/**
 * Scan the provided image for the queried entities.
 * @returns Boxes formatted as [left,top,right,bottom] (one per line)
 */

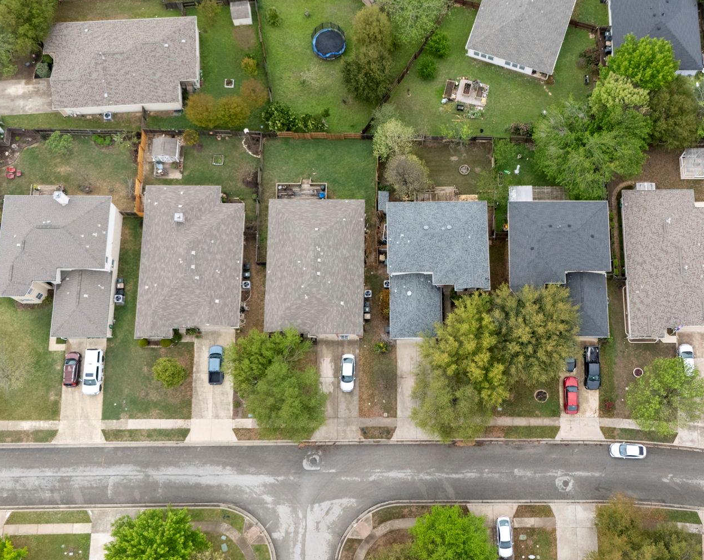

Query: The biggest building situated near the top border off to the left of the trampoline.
[41,16,203,116]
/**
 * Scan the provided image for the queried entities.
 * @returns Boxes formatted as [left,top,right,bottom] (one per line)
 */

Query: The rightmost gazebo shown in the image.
[678,148,704,180]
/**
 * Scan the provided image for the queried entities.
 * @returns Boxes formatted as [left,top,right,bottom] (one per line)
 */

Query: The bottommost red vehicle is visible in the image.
[563,376,581,416]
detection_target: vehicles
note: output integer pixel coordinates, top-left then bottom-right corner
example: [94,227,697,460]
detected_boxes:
[62,349,83,389]
[496,515,514,559]
[338,354,357,393]
[680,343,700,380]
[81,349,103,395]
[608,441,648,459]
[583,344,603,391]
[206,345,224,386]
[563,376,581,416]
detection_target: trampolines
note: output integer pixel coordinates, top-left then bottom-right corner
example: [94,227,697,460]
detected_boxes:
[311,22,344,58]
